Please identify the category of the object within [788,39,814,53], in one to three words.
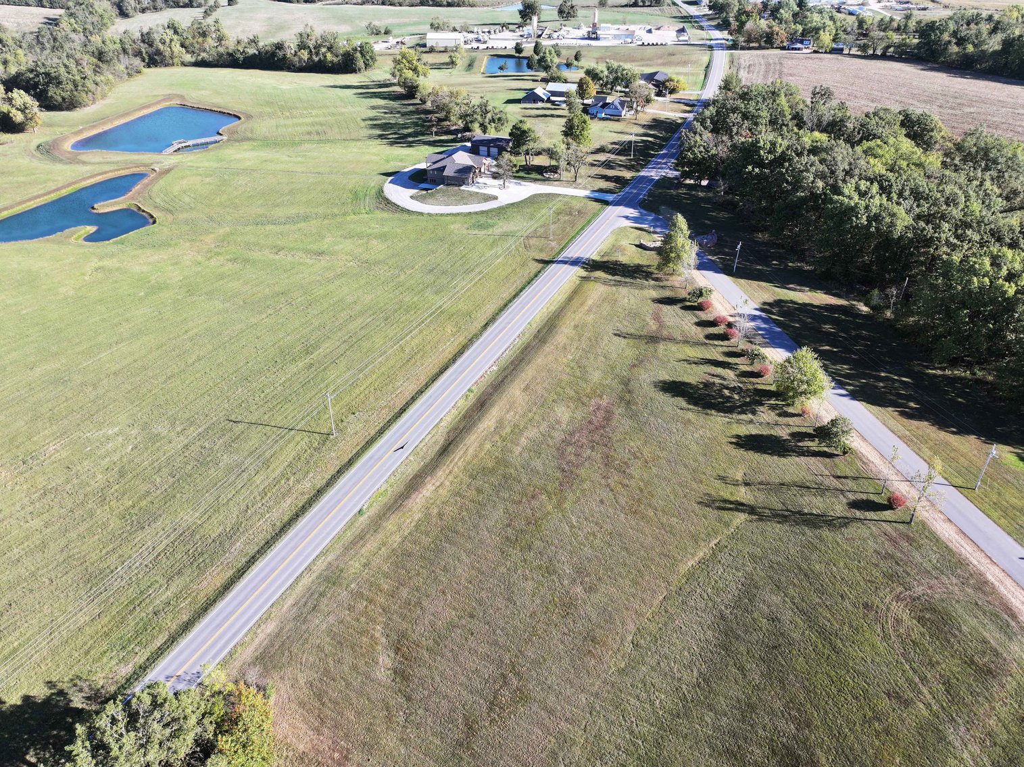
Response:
house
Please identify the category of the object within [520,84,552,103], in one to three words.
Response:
shed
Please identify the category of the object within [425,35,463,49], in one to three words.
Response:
shed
